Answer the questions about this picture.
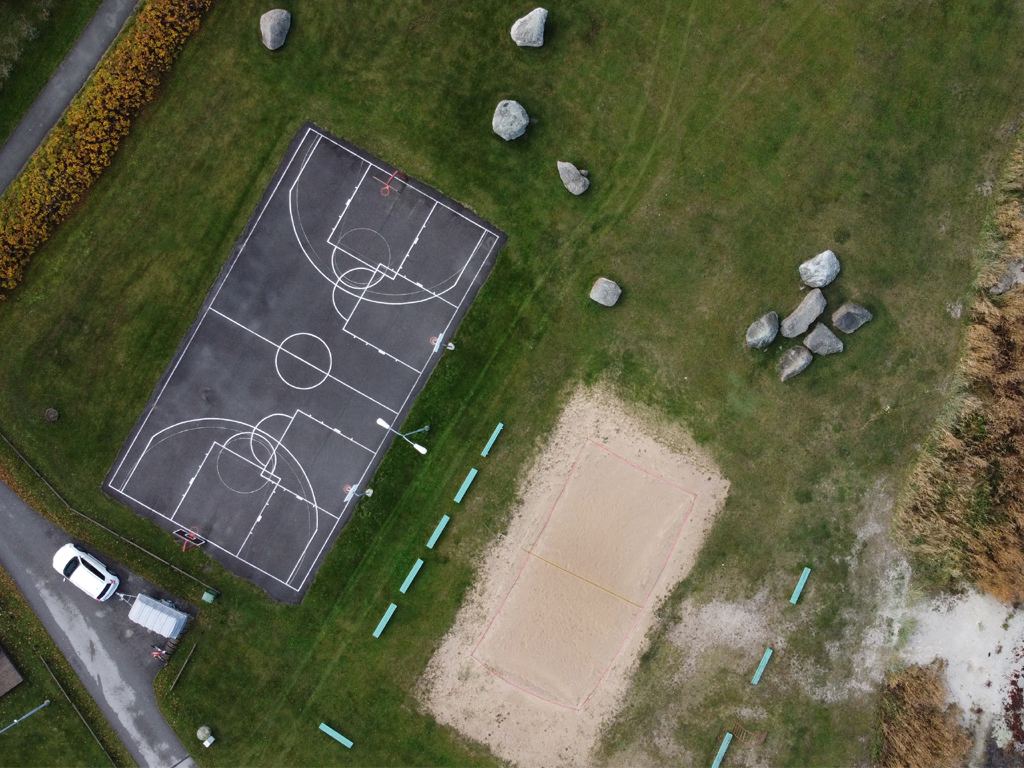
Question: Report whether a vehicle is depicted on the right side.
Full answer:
No, no vehicle can be made out on the right side.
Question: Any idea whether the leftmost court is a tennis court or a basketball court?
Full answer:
The leftmost court in the image is a basketball court.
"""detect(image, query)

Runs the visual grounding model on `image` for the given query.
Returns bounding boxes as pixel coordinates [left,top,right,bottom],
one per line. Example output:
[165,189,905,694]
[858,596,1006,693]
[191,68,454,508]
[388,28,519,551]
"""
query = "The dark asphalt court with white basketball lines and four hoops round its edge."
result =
[102,121,508,605]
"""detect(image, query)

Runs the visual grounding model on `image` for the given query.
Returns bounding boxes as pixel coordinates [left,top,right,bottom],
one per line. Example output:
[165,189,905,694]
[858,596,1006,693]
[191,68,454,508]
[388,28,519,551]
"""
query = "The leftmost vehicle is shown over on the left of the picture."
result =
[54,543,121,601]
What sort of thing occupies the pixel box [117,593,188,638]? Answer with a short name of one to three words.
trailer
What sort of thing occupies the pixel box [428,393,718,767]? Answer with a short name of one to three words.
sports court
